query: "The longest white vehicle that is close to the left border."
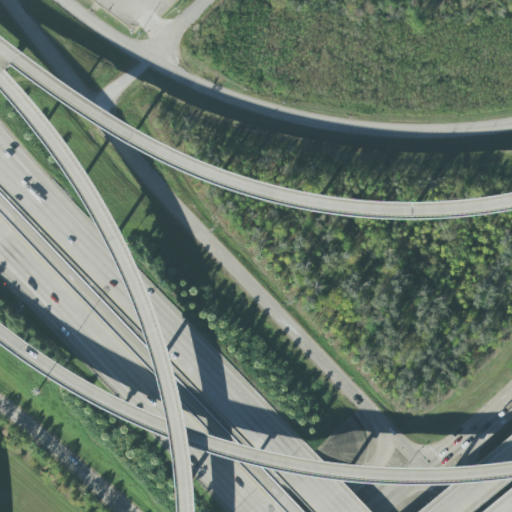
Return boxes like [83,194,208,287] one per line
[24,180,46,204]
